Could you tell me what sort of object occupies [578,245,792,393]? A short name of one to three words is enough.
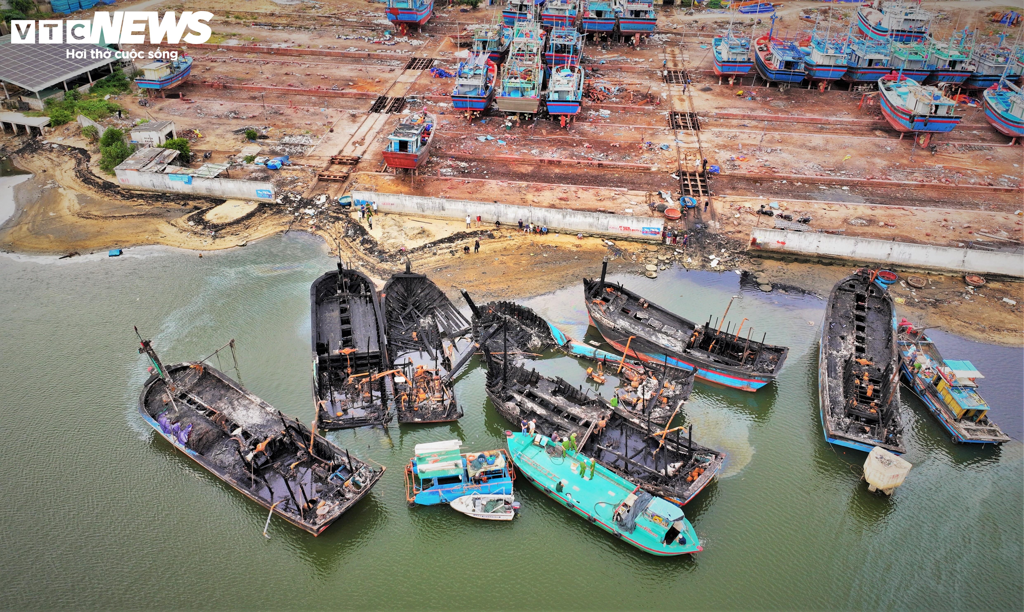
boat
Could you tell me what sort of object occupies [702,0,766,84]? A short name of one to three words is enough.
boat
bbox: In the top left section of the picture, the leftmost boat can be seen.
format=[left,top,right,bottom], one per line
[138,51,208,98]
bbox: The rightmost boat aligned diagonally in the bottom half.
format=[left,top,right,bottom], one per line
[903,315,1013,450]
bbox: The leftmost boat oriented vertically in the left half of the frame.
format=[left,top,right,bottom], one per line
[309,227,399,439]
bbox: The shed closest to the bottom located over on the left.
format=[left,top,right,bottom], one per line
[115,144,267,180]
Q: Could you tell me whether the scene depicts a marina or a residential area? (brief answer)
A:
marina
